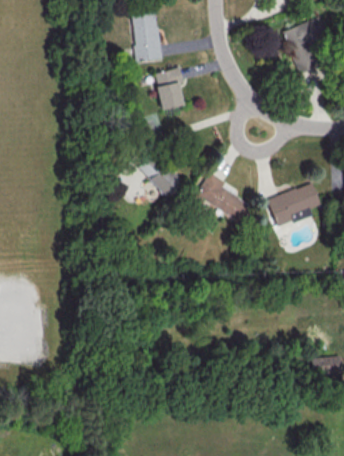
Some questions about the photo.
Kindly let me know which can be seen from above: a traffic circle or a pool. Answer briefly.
pool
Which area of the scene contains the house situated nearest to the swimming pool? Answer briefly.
right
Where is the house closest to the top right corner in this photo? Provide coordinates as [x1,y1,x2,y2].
[282,16,321,70]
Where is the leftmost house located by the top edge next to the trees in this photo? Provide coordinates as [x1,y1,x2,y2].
[132,14,163,64]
